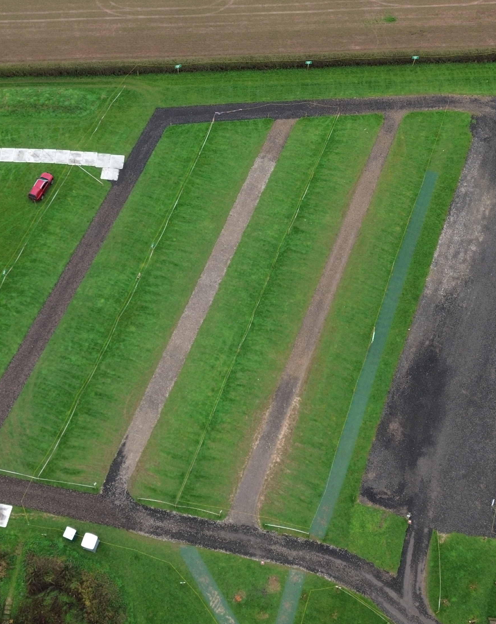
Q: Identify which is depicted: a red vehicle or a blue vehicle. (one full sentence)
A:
The image shows a red vehicle.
